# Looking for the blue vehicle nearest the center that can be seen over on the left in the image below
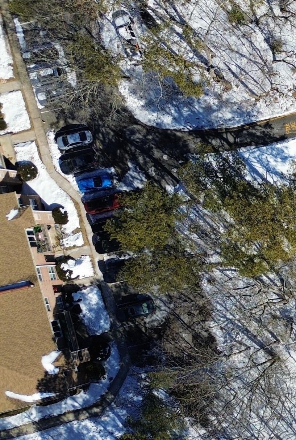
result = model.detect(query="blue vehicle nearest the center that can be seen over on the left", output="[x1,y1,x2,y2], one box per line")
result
[76,172,116,190]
